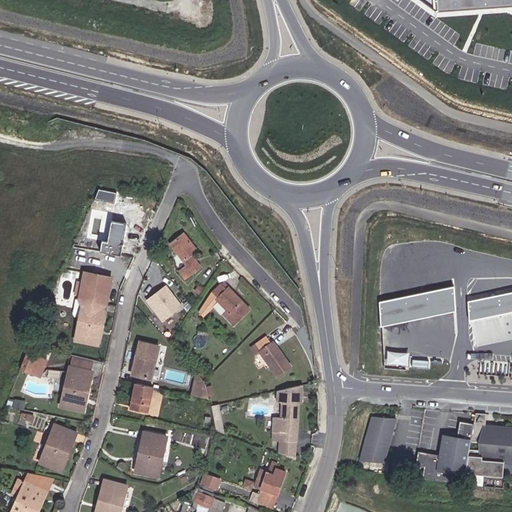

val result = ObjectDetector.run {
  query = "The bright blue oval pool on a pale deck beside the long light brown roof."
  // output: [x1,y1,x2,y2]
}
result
[246,393,276,418]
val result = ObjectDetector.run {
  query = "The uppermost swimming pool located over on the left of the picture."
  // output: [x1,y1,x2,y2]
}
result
[55,270,80,308]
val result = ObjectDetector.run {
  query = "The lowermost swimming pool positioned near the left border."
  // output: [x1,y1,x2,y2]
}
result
[22,372,59,398]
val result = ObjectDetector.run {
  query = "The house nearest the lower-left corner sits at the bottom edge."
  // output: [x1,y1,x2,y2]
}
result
[8,473,54,512]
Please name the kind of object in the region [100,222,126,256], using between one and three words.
house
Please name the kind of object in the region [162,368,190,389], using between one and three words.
swimming pool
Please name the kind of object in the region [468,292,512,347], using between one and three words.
building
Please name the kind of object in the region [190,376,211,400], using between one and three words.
shed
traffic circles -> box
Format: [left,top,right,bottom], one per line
[224,58,377,209]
